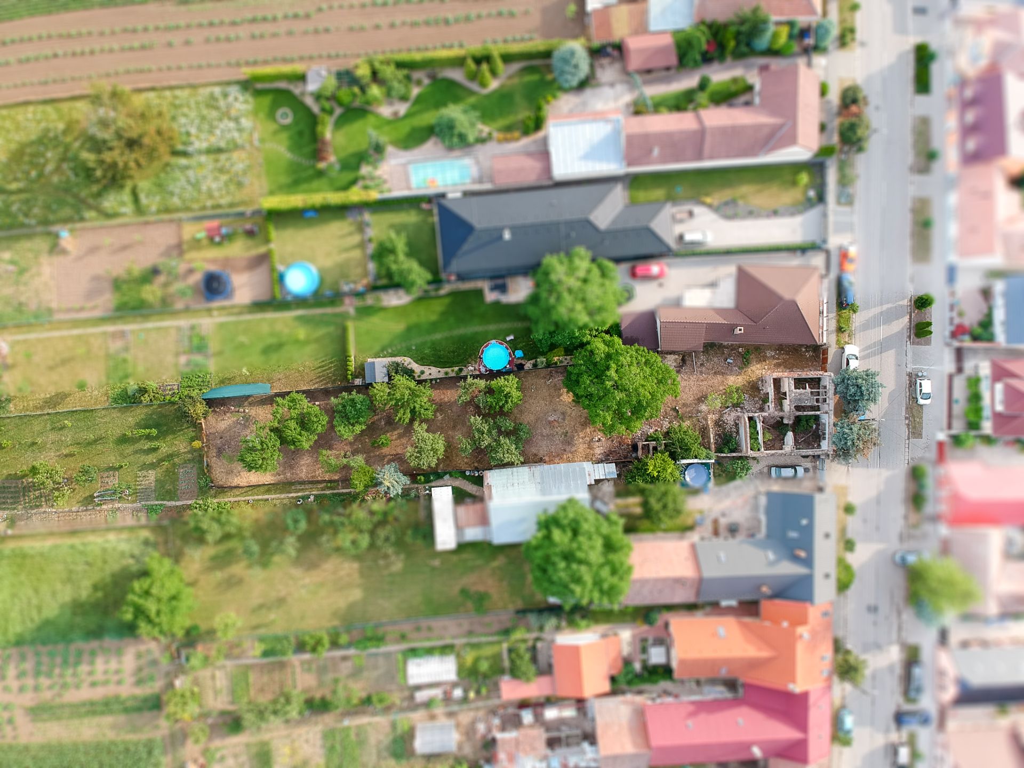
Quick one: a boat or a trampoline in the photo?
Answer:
trampoline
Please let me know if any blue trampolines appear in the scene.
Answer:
Yes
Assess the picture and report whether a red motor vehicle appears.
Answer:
Yes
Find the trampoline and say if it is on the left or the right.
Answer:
left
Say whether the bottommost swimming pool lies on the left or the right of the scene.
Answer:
right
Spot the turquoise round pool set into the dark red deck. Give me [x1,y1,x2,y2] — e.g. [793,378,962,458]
[482,342,510,370]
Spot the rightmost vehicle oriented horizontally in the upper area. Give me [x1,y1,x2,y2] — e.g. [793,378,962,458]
[677,229,711,245]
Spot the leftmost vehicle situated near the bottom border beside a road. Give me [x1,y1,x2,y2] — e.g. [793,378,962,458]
[836,707,853,738]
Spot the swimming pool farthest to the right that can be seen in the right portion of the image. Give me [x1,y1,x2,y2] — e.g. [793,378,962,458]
[683,463,710,489]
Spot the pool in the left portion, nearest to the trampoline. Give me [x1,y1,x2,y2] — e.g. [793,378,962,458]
[283,260,321,298]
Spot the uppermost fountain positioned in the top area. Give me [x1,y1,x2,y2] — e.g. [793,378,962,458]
[274,106,293,125]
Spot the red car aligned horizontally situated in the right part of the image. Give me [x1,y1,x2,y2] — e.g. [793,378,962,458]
[632,263,666,279]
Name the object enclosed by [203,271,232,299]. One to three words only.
trampoline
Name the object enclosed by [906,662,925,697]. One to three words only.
car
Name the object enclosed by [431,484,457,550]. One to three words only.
shed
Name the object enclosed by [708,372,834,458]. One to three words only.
house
